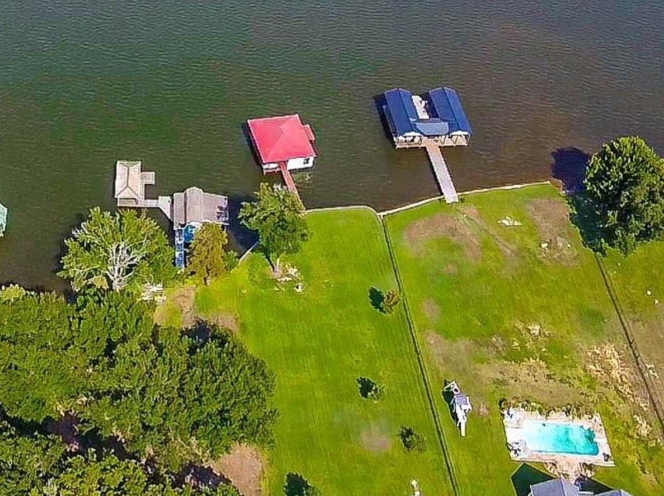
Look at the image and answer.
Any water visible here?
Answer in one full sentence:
Yes, there is water in the image.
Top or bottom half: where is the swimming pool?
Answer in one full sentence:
The swimming pool is in the bottom half of the image.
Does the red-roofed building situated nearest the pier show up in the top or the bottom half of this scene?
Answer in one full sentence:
The top half of the photo is where the red-roofed building situated nearest the pier is.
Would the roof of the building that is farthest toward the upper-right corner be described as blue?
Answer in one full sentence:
Yes, the roof of the building that is farthest toward the upper-right corner is indeed blue.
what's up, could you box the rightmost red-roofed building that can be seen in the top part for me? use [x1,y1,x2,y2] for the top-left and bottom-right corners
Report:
[249,114,314,174]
